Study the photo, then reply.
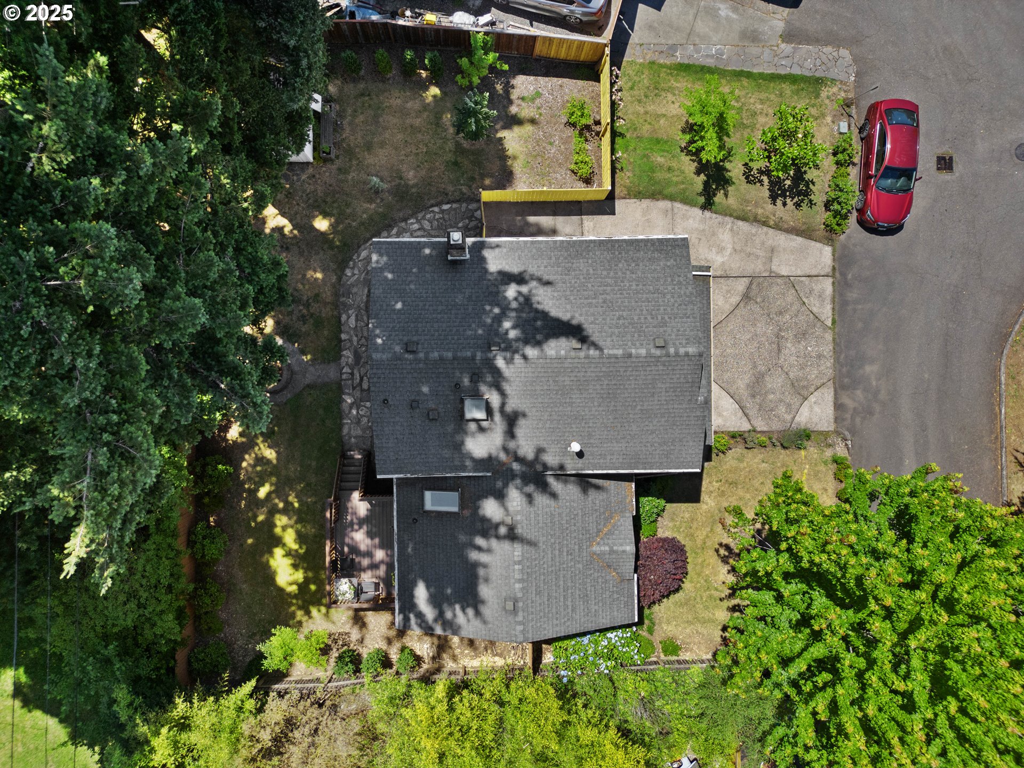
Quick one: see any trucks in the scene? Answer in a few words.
No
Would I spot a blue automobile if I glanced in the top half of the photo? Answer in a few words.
No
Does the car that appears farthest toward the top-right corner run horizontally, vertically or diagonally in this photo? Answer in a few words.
vertically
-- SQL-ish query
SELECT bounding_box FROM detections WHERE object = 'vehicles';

[490,0,606,27]
[852,95,922,229]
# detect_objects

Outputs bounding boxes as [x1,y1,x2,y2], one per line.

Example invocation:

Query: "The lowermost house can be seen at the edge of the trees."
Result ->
[368,226,715,643]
